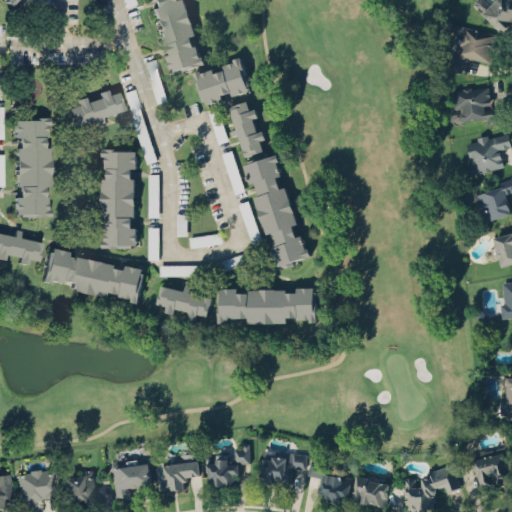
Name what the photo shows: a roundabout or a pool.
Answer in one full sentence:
Looking from above, you can make out a pool.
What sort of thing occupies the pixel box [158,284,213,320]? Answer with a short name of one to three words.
building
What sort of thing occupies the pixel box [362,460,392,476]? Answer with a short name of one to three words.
swimming pool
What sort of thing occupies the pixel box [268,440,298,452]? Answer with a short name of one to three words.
swimming pool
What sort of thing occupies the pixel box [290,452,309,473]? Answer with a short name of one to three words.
house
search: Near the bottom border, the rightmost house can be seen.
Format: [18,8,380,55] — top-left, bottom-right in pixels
[476,453,508,488]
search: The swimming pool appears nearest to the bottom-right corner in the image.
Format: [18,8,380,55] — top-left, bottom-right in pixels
[478,433,504,450]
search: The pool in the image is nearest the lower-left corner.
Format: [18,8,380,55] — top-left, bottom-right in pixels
[21,461,50,473]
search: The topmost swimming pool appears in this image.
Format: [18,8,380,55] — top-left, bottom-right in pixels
[469,234,497,264]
